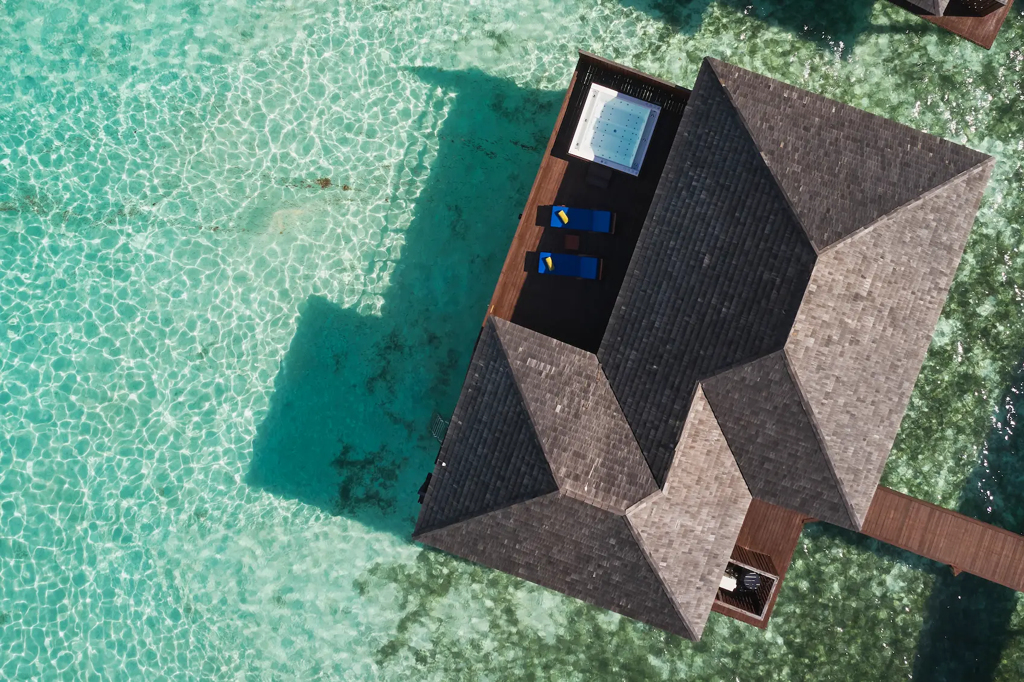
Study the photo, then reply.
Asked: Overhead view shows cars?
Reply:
No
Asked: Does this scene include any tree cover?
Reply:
No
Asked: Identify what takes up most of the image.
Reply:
water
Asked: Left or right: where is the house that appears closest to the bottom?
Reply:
right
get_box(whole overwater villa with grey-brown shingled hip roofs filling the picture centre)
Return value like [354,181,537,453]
[410,54,996,644]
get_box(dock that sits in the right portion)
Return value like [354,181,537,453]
[862,486,1024,592]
